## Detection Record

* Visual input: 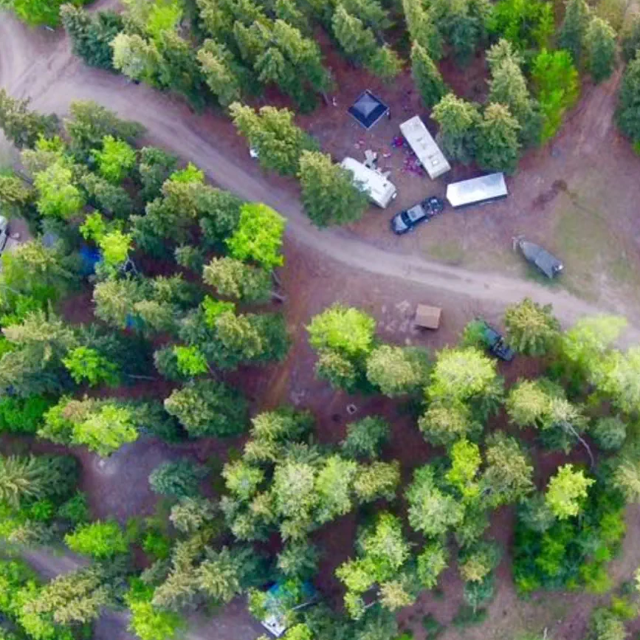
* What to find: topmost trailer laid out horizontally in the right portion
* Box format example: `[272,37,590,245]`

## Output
[440,171,509,205]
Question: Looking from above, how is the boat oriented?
at an angle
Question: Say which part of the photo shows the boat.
right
